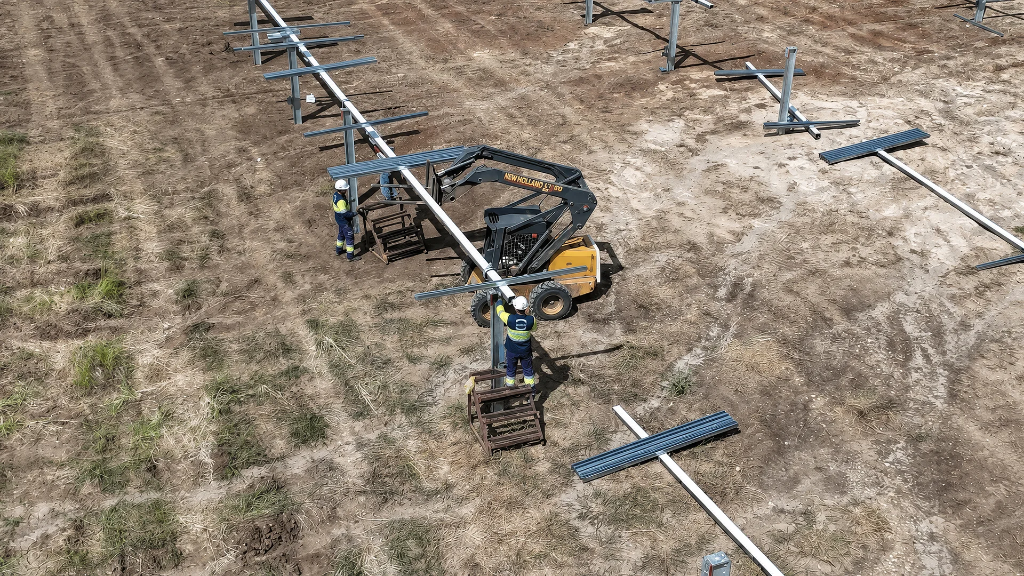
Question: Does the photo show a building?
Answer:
No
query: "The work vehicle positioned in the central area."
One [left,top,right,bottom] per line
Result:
[372,142,601,328]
